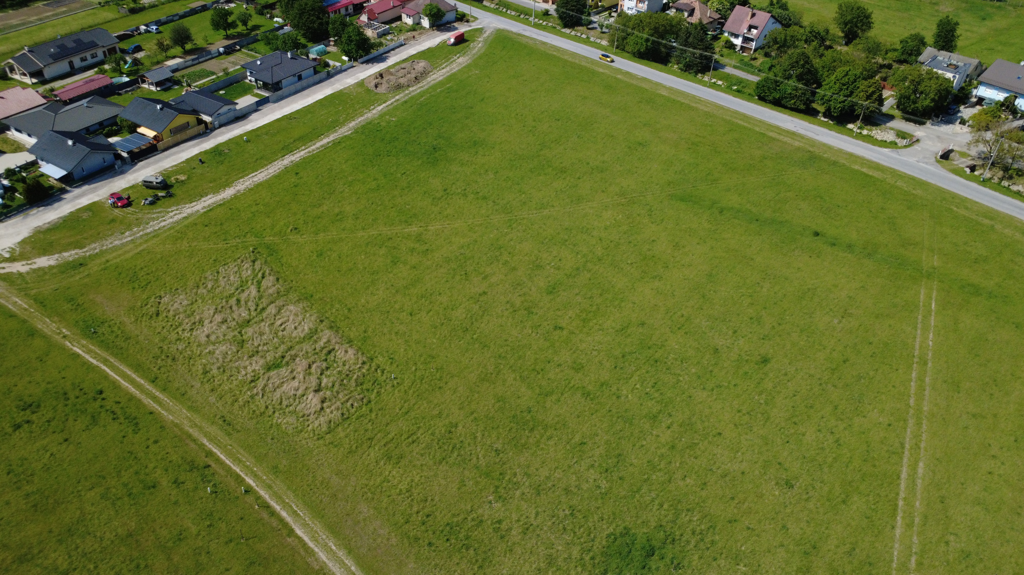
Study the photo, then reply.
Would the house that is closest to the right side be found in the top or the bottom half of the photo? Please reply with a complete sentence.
You can find the house that is closest to the right side in the top half.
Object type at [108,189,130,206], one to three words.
car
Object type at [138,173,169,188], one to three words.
vehicle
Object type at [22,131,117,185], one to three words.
house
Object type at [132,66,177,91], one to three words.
building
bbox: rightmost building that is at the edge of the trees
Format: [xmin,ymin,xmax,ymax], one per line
[973,60,1024,113]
